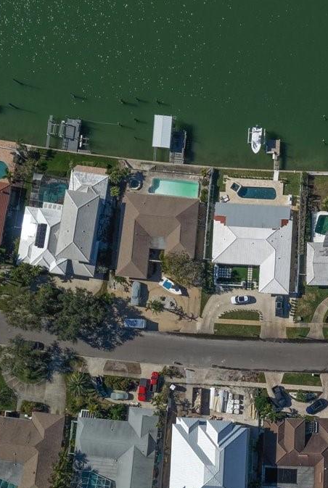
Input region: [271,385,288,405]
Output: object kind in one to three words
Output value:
vehicle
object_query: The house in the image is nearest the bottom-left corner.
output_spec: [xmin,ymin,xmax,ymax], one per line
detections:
[0,411,67,488]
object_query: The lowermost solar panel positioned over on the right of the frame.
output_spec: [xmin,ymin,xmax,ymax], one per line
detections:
[278,469,296,485]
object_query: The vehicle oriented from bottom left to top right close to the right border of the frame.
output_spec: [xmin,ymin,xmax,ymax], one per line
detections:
[309,398,327,413]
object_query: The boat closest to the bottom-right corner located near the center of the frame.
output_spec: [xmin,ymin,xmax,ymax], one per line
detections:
[158,277,182,292]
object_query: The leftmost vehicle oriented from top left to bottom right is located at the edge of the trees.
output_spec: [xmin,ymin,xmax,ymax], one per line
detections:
[91,376,109,397]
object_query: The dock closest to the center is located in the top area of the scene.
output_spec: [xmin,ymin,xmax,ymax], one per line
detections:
[167,132,185,163]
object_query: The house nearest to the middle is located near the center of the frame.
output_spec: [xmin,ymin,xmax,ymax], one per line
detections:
[116,193,200,278]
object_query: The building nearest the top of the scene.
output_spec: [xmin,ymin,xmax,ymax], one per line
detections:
[152,113,176,150]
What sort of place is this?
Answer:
residential area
